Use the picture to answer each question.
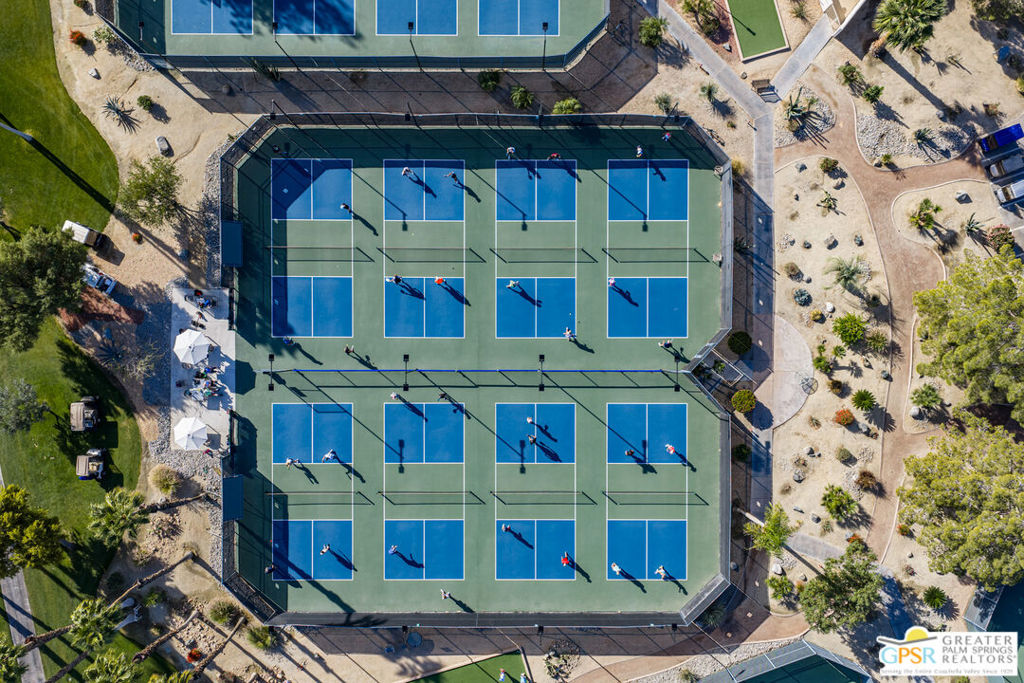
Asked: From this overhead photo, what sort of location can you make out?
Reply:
sports ground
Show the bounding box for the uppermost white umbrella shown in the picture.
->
[172,325,213,366]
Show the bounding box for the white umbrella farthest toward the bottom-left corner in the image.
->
[172,414,209,450]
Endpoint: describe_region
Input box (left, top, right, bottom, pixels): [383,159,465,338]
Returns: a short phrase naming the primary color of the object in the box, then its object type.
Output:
blue sports court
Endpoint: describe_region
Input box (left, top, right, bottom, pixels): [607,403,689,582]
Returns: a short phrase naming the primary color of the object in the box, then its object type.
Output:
blue sports court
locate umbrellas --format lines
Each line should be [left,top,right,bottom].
[172,414,209,450]
[172,325,213,366]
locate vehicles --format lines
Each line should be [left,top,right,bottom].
[82,265,124,297]
[976,123,1023,154]
[71,398,98,431]
[77,446,104,480]
[991,181,1024,208]
[63,222,108,251]
[984,152,1024,182]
